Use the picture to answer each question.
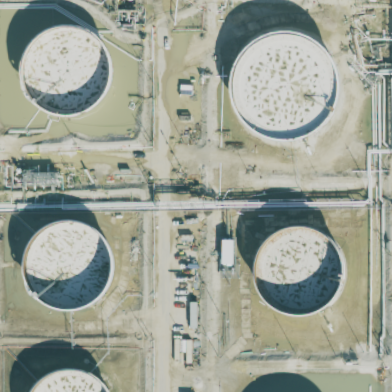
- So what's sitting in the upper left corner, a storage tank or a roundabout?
storage tank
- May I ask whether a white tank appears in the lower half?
Yes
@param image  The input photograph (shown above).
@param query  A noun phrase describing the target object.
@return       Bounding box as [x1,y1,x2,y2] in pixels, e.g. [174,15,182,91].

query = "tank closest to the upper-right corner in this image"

[229,30,340,140]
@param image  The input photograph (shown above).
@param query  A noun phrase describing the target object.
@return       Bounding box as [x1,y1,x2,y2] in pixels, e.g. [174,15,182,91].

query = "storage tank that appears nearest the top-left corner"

[20,24,114,116]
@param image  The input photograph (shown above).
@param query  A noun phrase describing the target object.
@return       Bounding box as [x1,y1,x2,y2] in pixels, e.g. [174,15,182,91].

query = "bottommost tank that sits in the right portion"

[252,226,346,317]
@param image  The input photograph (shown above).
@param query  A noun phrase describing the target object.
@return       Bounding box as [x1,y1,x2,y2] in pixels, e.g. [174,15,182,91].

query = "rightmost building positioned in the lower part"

[222,239,234,266]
